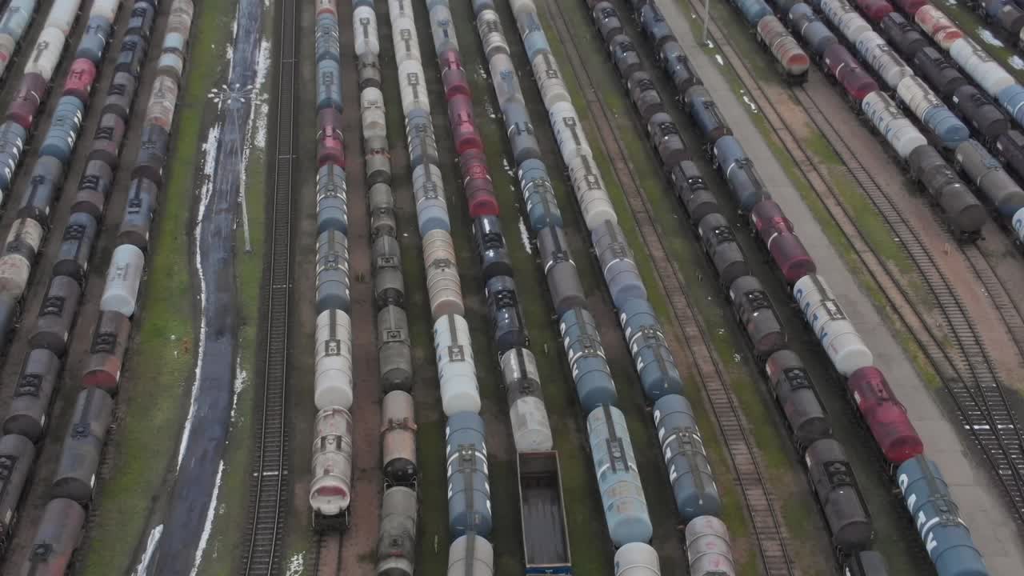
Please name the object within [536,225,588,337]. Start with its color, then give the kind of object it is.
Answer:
gray rail car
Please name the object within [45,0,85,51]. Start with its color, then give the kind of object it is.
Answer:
white rail car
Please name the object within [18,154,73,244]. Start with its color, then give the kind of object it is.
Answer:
gray rail car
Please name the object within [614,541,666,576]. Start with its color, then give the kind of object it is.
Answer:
white rail car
